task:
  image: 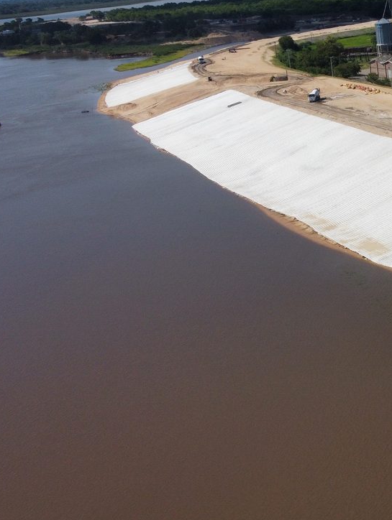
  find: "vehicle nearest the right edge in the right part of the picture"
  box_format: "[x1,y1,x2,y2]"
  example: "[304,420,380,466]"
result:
[302,85,322,101]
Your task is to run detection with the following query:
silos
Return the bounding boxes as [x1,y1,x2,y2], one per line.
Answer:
[371,13,392,54]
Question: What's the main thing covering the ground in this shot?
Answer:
water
